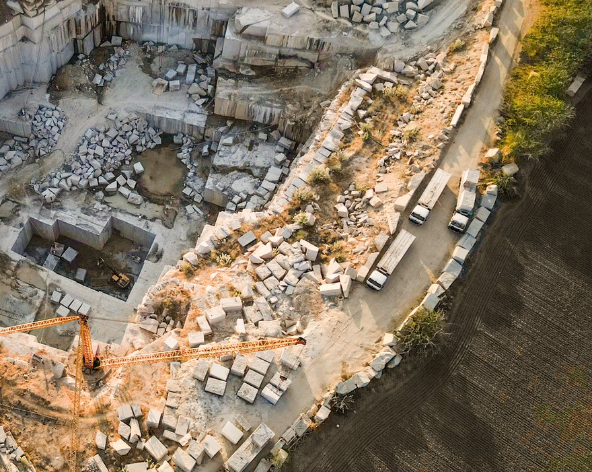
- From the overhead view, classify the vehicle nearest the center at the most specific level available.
truck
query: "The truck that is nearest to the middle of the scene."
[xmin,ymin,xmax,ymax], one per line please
[365,229,417,292]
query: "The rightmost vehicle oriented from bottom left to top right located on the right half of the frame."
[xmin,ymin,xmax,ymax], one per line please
[408,168,452,226]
